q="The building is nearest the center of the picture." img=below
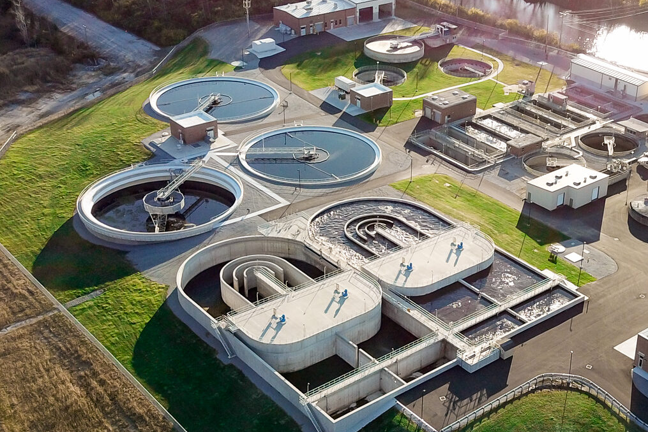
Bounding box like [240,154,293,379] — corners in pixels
[351,83,392,112]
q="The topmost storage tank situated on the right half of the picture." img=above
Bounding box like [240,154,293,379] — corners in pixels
[363,28,440,62]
